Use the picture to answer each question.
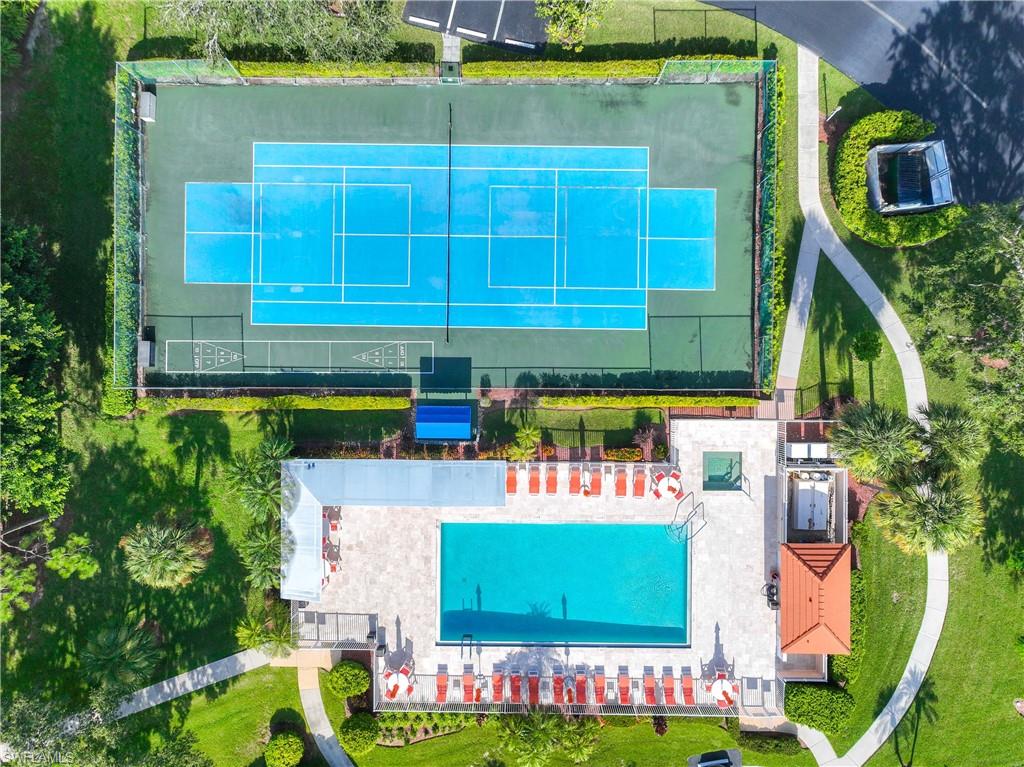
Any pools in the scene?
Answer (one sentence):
Yes, a pool appears in the view.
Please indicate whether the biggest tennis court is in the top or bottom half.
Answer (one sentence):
You can find the biggest tennis court in the top half.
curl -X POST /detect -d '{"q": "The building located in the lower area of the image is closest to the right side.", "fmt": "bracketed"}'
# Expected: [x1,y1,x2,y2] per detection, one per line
[771,540,853,684]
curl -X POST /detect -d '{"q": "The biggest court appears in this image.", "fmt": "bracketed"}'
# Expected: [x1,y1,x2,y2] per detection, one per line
[143,62,757,441]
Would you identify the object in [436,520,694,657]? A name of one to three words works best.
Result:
swimming pool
